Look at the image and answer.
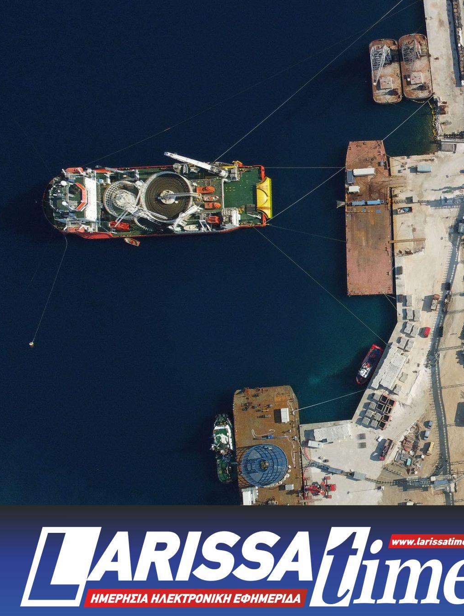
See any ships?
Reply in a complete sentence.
Yes, a ship appears in the view.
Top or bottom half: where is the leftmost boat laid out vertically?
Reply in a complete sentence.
Seen from above, the leftmost boat laid out vertically lies in the bottom half of the view.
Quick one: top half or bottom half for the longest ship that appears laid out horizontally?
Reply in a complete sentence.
You can find the longest ship that appears laid out horizontally in the top half.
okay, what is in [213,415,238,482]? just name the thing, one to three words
boat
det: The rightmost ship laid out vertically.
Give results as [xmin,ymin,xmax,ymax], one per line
[399,34,432,99]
